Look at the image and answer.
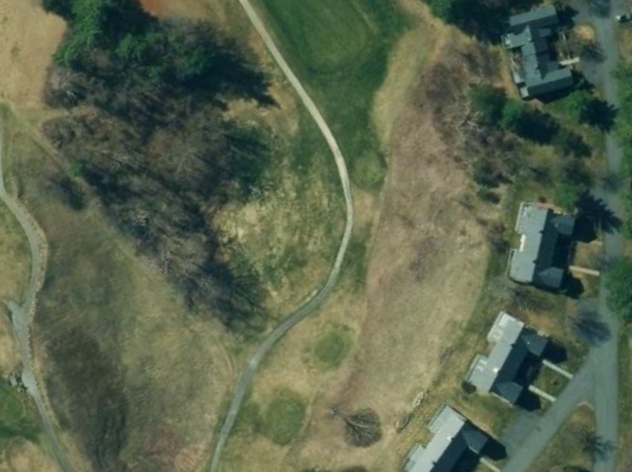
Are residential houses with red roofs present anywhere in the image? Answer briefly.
No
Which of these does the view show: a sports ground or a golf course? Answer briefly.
golf course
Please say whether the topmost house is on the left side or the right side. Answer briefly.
right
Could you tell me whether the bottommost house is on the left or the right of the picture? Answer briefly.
right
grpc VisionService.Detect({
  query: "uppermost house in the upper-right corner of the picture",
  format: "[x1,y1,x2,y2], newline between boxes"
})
[502,6,576,99]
